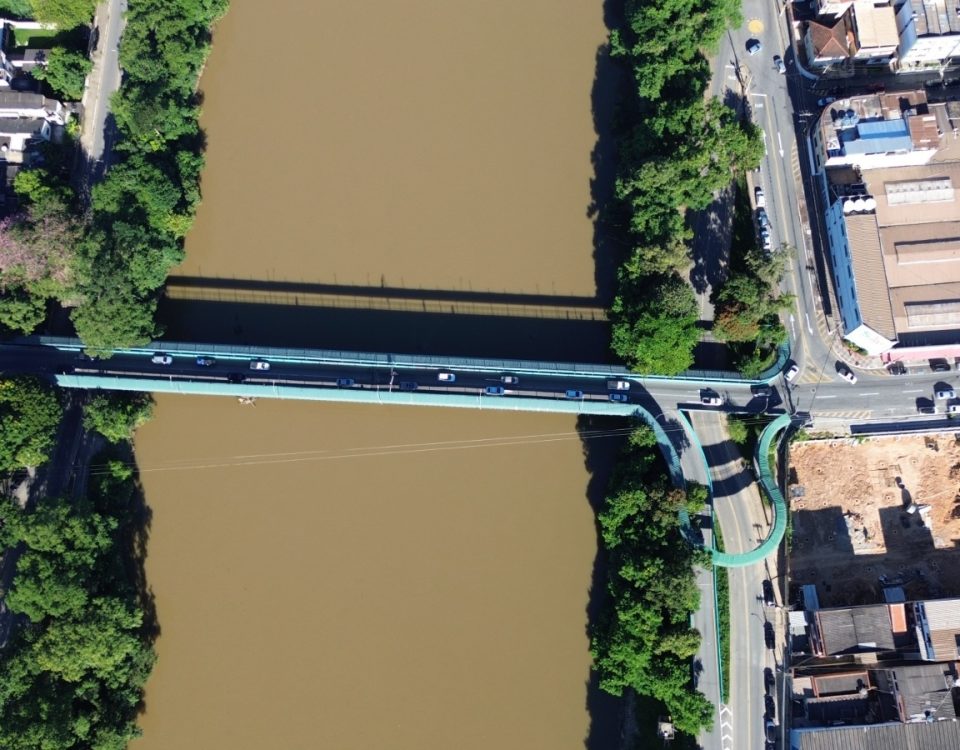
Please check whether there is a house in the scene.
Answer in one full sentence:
Yes, a house can be made out from above.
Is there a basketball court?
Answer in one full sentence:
No, the photo shows no basketball court.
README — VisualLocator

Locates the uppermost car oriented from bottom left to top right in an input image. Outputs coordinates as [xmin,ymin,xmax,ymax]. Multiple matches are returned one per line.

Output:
[744,39,763,55]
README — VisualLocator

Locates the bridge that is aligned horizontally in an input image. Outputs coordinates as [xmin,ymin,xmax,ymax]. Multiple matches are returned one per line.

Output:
[0,343,788,415]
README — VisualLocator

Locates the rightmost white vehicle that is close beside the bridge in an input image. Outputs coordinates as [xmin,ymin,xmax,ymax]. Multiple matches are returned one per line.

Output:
[783,364,800,382]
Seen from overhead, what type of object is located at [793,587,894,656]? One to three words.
house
